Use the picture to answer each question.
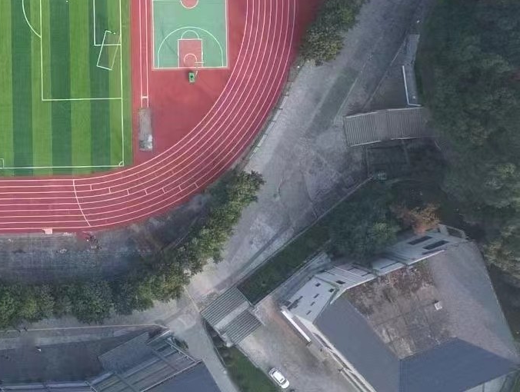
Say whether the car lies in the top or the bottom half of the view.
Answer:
bottom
